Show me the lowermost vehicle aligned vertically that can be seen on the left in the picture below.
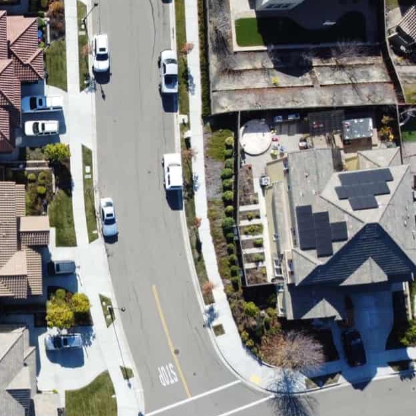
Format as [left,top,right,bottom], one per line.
[99,198,119,238]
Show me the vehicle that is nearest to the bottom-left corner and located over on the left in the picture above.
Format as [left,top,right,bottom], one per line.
[44,333,83,352]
